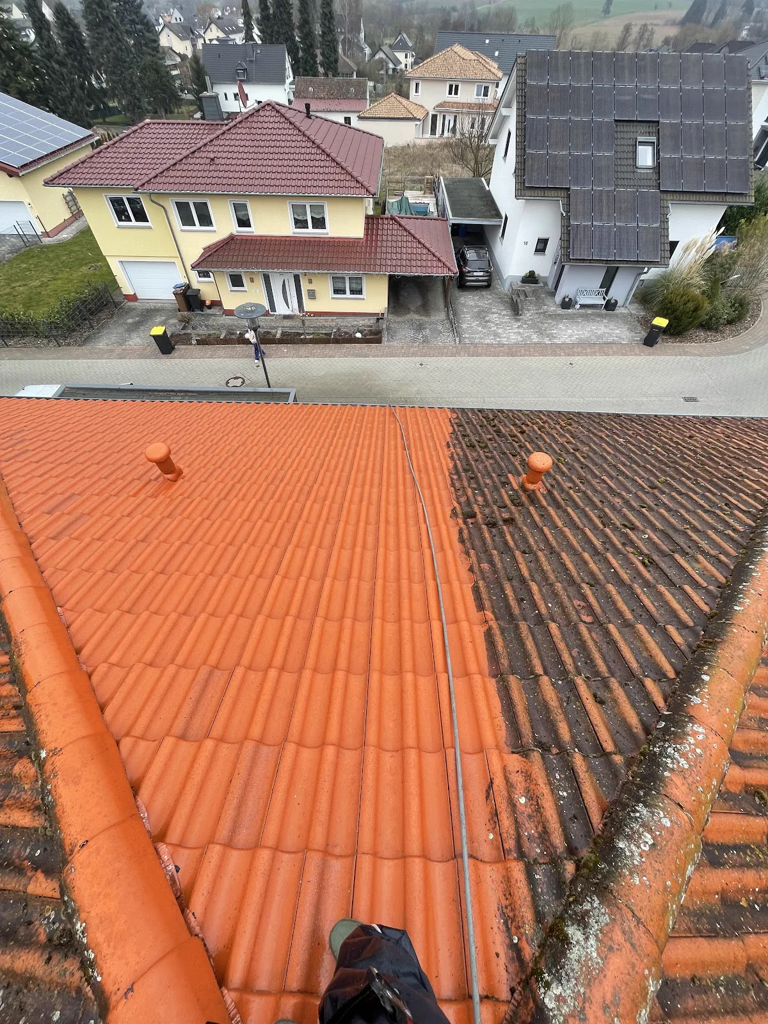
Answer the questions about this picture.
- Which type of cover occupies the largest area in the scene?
buildings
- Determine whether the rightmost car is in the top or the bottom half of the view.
top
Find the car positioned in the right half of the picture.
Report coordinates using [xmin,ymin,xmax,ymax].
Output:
[457,244,493,282]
